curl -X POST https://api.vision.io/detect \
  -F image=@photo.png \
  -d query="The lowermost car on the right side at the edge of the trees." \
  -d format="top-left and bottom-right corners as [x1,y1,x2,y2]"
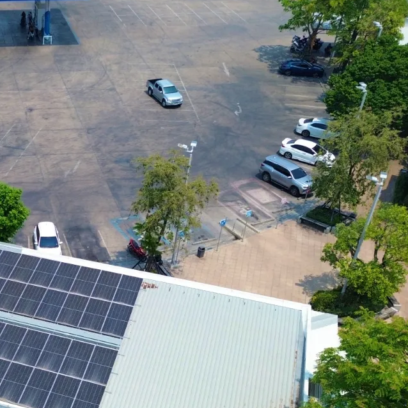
[259,155,320,195]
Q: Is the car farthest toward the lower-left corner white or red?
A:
white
